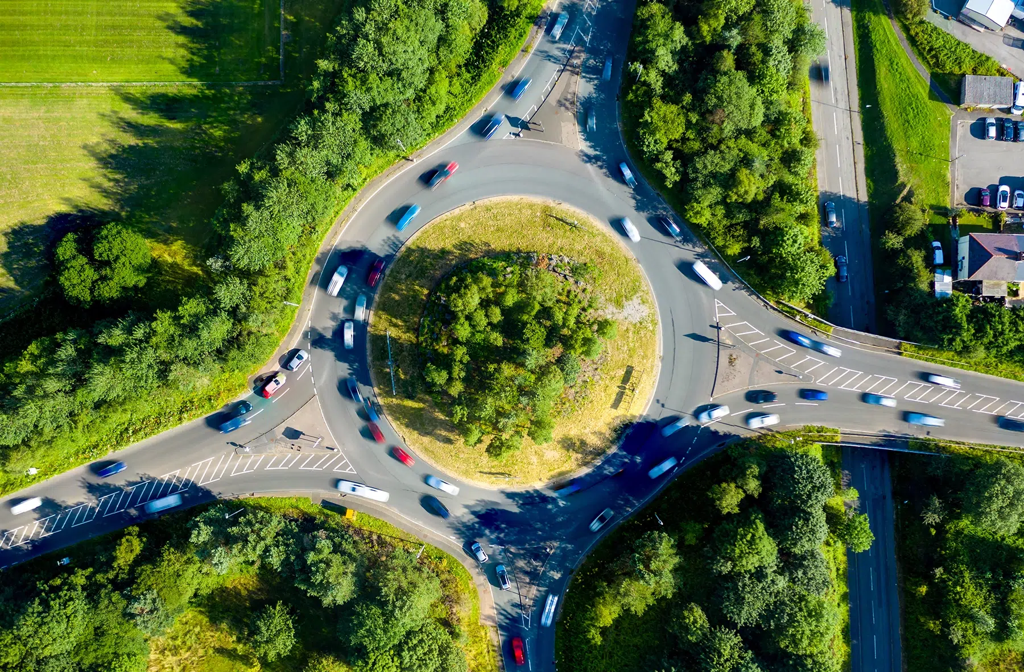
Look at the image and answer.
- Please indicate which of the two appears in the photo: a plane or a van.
van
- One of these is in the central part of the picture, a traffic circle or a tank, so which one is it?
traffic circle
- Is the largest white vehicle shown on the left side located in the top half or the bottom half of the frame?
bottom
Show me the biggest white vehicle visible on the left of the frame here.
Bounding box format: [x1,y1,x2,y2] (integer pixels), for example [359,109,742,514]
[339,478,389,503]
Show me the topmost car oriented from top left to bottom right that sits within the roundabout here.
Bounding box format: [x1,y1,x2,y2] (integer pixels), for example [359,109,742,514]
[617,161,639,188]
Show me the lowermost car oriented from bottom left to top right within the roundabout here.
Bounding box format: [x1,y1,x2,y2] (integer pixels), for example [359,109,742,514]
[588,507,614,533]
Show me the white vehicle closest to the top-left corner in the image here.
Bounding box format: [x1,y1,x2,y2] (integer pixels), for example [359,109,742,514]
[326,265,350,296]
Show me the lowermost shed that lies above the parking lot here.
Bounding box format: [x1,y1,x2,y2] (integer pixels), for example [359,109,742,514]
[957,74,1014,109]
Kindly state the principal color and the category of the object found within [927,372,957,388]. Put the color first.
white car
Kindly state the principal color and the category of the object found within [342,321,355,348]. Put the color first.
white vehicle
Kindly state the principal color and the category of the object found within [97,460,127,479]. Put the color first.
blue car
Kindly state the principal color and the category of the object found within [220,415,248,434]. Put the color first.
blue car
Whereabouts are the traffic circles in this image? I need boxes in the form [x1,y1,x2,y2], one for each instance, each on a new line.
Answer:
[303,123,756,555]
